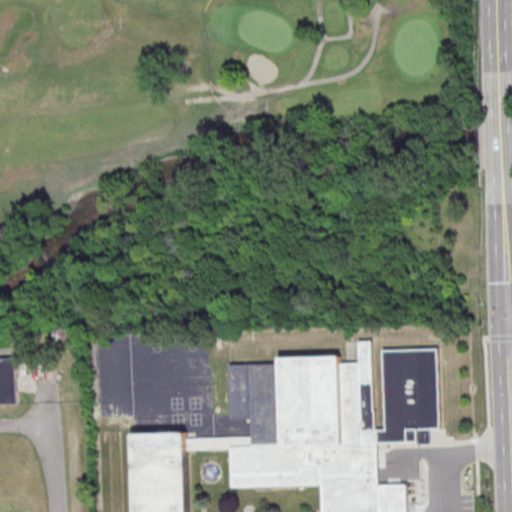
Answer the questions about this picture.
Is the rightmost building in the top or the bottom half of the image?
bottom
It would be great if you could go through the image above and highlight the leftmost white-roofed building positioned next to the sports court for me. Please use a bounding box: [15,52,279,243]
[126,432,189,512]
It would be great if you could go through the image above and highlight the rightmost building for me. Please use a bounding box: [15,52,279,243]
[371,348,440,442]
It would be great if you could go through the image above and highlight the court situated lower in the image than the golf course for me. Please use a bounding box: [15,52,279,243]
[100,336,250,438]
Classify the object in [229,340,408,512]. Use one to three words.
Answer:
building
